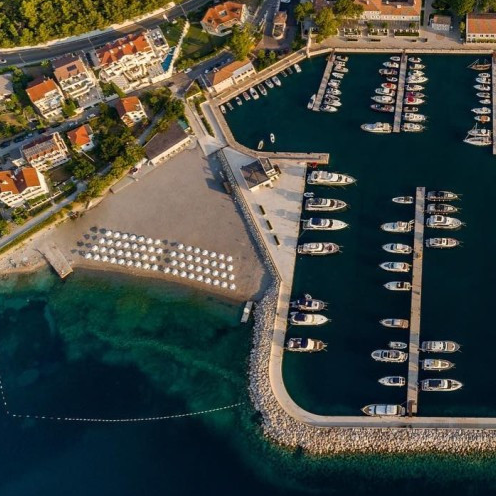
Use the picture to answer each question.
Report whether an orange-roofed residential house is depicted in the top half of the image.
Yes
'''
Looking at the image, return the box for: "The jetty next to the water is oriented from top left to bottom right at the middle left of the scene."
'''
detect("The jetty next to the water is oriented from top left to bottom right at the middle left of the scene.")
[38,248,74,278]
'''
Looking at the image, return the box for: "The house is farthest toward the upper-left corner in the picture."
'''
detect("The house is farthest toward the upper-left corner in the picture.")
[0,72,23,103]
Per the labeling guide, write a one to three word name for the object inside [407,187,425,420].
pier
